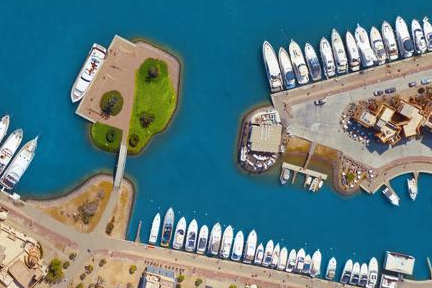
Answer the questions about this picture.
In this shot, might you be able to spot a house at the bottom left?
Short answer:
Yes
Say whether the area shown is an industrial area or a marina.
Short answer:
marina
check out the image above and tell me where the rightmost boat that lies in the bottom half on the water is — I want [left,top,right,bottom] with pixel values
[405,176,417,199]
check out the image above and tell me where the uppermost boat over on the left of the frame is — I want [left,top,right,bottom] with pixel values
[72,43,107,102]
